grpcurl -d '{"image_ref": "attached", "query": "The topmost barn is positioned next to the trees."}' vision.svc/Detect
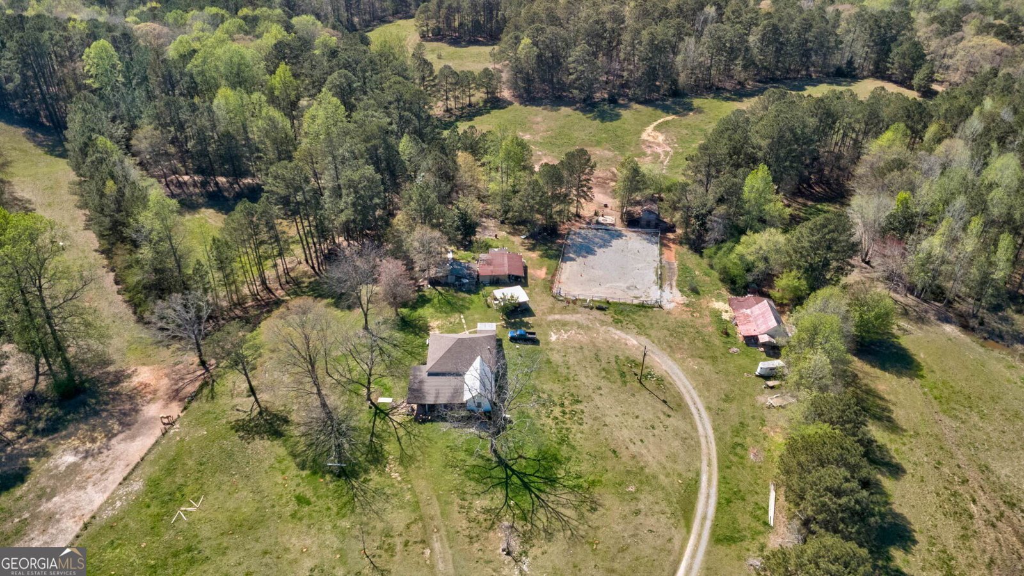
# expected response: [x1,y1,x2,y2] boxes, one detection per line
[624,196,676,229]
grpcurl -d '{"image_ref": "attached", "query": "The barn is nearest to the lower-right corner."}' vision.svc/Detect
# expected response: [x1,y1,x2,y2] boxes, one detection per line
[727,297,787,349]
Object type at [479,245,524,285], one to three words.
shed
